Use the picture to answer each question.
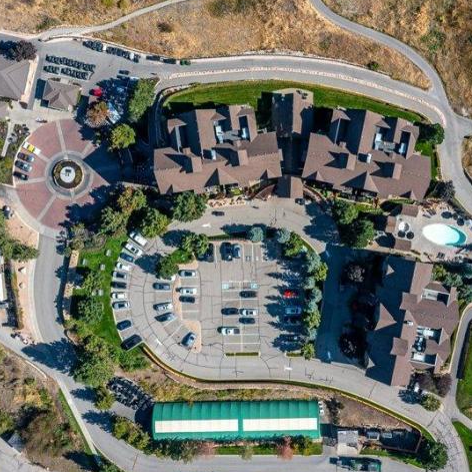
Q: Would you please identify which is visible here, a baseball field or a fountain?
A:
fountain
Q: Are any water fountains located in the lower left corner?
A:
No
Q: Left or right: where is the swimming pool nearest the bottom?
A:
right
